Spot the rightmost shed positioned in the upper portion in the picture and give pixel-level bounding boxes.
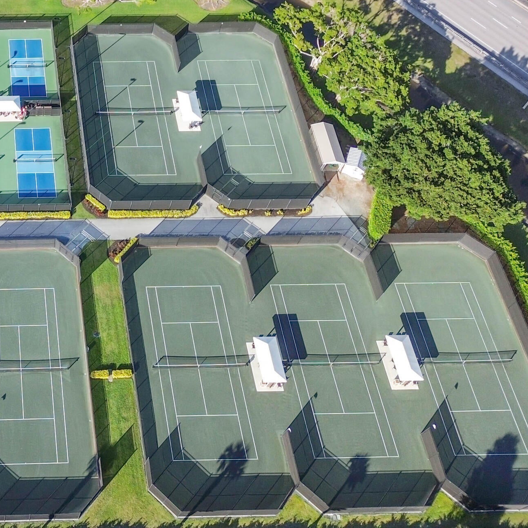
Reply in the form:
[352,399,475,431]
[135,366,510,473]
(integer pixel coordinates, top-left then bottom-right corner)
[343,148,364,177]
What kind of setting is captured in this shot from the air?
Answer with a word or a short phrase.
sports ground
